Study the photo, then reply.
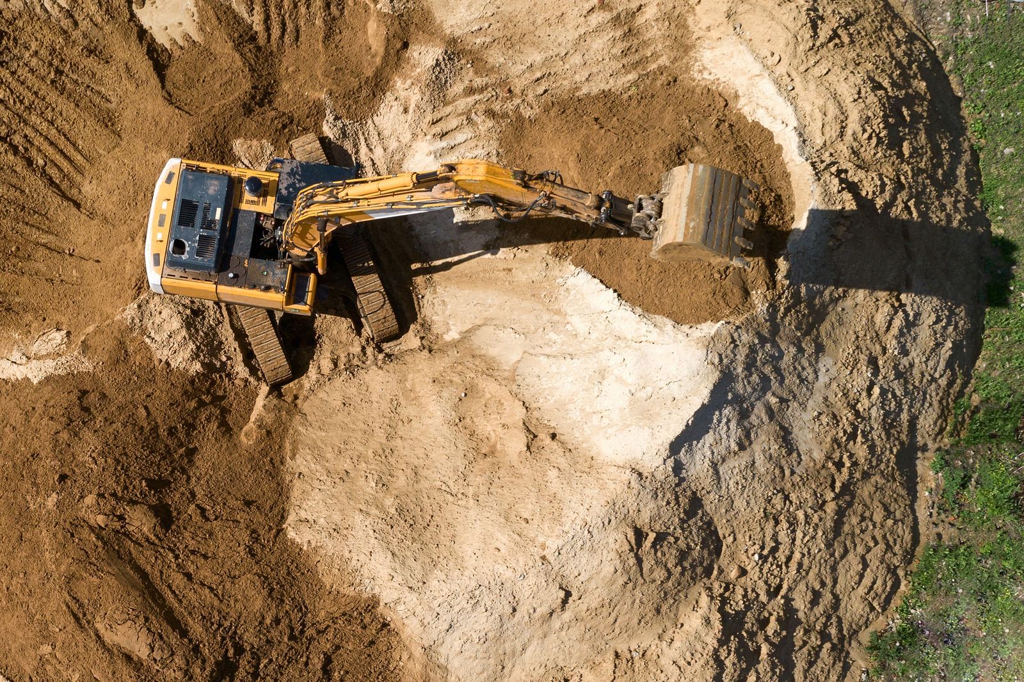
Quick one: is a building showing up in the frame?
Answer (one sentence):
No, there is no building in the image.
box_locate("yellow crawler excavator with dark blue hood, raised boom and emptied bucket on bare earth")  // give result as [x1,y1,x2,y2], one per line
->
[145,129,761,394]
